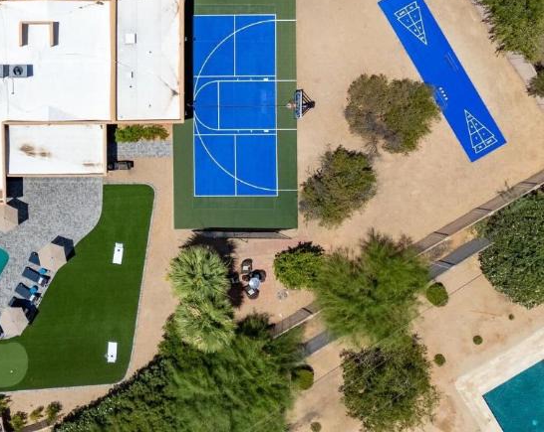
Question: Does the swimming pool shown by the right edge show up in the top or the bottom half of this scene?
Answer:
bottom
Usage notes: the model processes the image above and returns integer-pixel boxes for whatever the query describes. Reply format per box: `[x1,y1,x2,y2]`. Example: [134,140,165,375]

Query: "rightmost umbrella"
[38,243,66,272]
